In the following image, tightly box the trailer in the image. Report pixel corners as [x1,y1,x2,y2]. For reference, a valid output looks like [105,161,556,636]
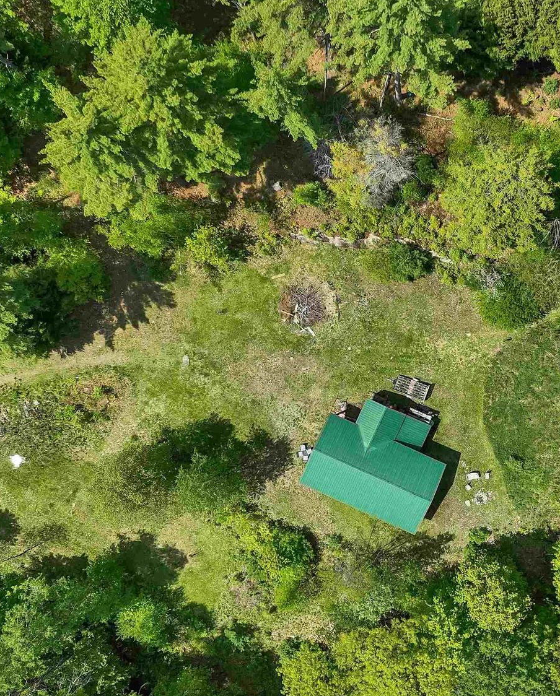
[386,376,431,401]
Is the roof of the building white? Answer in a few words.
No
